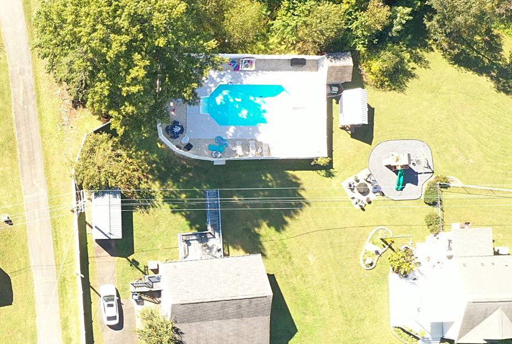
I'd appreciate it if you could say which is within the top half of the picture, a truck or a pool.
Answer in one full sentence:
The feature located within the top half of the picture is a pool.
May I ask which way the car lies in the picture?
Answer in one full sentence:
From this overhead view, the car appears to run from top to bottom.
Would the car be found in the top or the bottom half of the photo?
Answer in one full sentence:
Seen from above, the car lies in the bottom half of the view.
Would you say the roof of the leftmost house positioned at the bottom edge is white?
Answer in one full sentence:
Yes, the roof of the leftmost house positioned at the bottom edge appears white.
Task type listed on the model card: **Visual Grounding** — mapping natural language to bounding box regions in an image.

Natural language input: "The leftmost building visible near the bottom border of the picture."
[159,254,277,344]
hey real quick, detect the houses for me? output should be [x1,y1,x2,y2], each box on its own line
[412,224,512,344]
[159,254,277,344]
